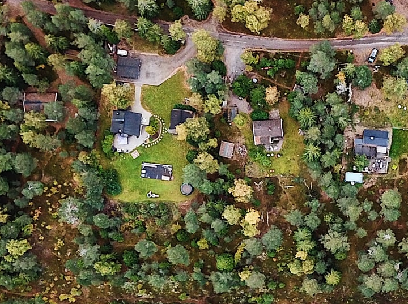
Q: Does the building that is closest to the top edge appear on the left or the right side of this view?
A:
left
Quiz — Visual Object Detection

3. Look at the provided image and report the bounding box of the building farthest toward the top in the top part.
[117,56,142,80]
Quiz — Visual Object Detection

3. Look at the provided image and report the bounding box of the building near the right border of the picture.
[356,129,390,158]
